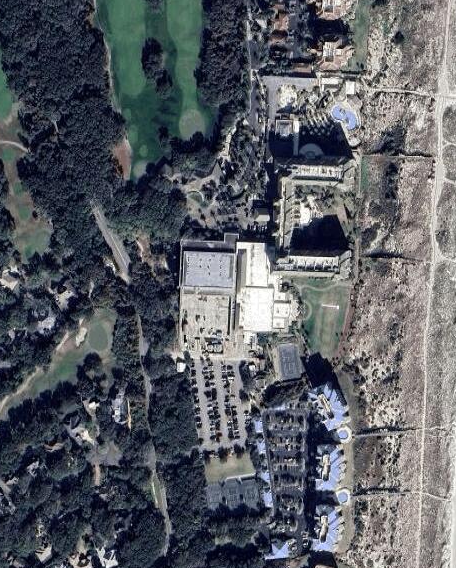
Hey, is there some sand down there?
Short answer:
Yes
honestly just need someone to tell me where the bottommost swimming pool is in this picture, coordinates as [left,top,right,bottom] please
[337,489,351,505]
